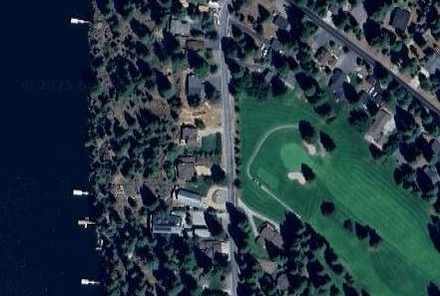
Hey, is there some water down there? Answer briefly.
Yes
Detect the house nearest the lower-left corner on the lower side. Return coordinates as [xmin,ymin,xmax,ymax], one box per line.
[152,213,187,234]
